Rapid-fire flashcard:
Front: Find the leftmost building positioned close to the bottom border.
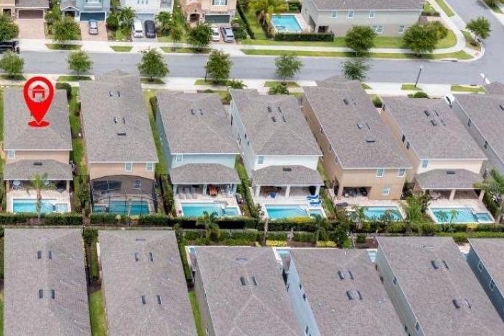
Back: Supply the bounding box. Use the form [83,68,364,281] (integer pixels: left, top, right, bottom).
[3,228,91,336]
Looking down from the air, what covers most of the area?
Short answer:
buildings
